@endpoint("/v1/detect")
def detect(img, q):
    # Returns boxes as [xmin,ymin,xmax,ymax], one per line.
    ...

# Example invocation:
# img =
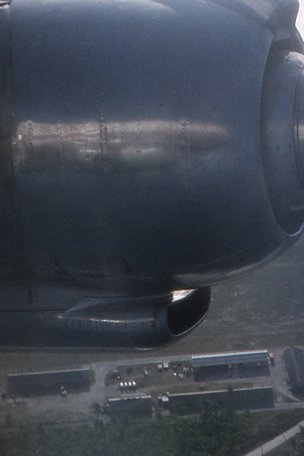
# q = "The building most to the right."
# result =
[280,350,304,395]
